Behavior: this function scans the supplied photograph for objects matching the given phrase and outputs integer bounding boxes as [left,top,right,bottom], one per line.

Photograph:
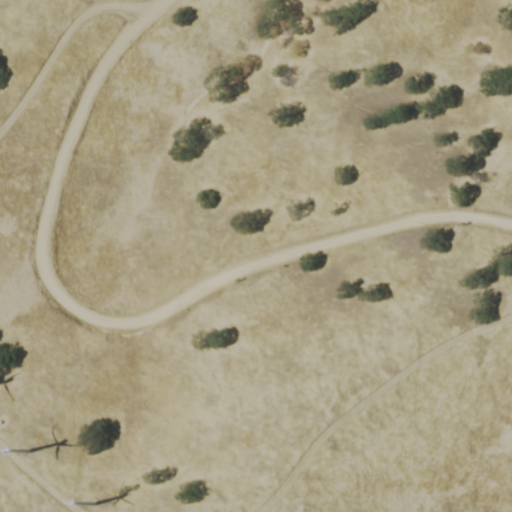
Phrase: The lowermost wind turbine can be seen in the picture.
[62,489,99,512]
